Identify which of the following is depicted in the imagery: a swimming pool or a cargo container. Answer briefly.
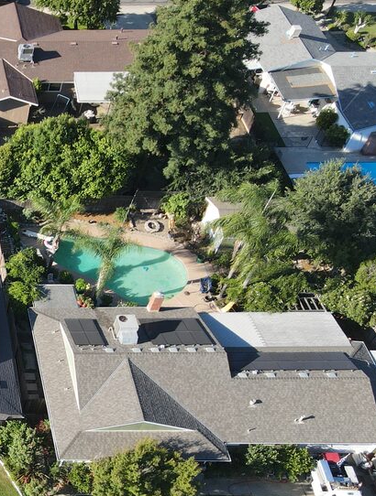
swimming pool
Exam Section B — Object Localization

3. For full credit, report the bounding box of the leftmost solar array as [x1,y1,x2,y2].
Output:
[64,318,106,344]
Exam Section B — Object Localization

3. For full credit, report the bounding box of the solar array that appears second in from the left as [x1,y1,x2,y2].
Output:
[136,318,214,344]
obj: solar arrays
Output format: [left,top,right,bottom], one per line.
[64,318,106,344]
[136,318,214,344]
[230,352,356,369]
